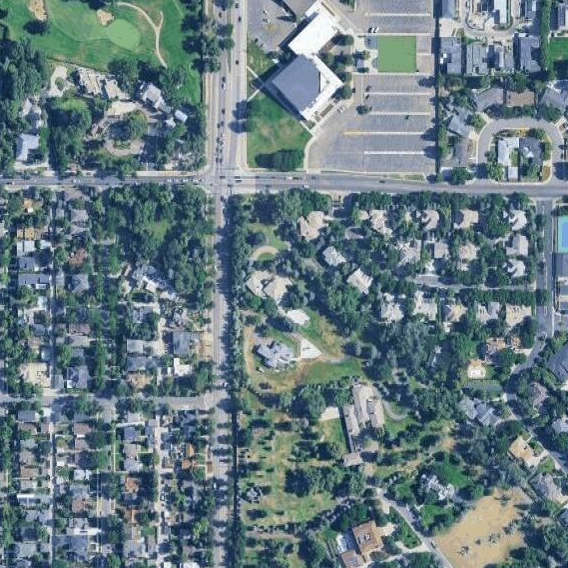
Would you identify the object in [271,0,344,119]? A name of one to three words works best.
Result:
building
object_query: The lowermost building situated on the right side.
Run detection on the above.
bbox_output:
[342,521,381,568]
